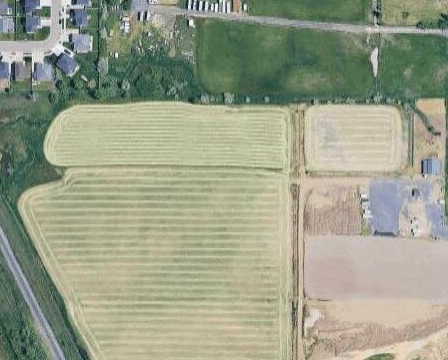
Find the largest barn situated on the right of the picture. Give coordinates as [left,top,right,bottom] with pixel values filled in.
[422,158,441,175]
